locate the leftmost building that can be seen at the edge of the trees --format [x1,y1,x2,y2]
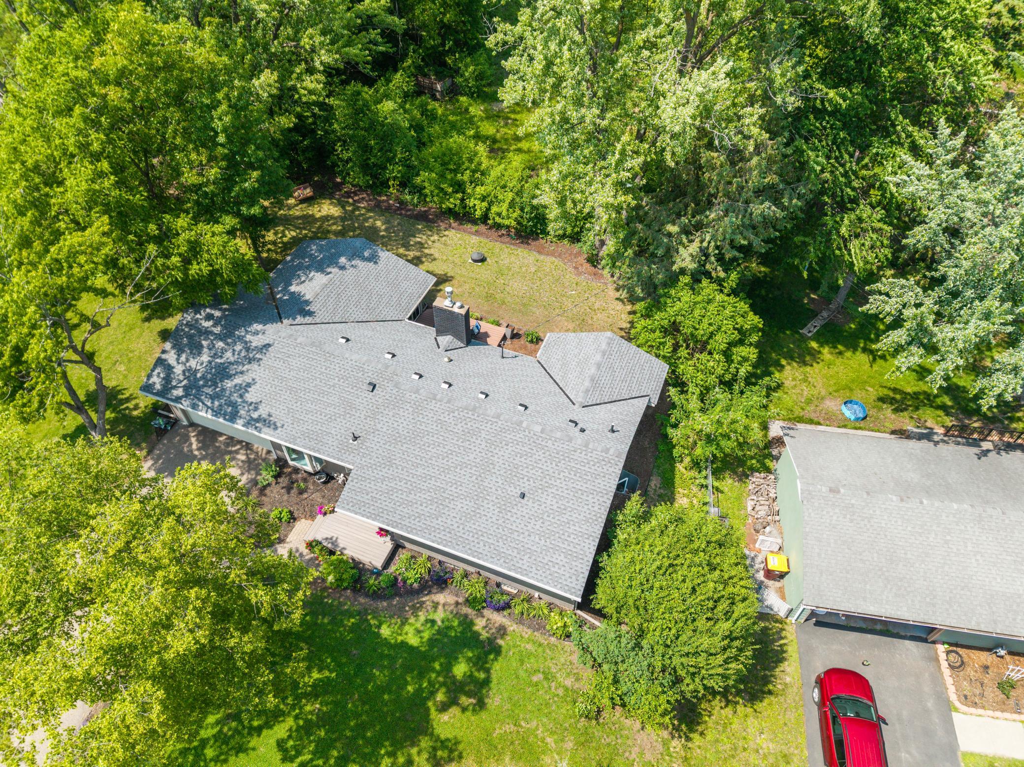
[137,237,669,611]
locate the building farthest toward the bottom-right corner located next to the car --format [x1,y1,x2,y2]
[773,424,1024,654]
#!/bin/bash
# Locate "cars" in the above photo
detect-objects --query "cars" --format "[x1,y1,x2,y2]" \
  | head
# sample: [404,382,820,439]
[807,666,887,767]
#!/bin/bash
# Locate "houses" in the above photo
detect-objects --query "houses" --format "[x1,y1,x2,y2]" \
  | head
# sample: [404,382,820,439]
[773,424,1024,654]
[137,237,669,611]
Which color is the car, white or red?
red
